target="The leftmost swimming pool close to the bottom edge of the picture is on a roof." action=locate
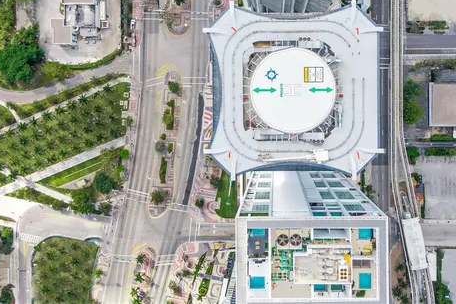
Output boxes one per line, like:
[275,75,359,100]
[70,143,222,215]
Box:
[249,275,266,290]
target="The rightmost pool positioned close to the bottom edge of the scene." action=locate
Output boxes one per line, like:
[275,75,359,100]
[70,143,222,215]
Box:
[358,272,372,290]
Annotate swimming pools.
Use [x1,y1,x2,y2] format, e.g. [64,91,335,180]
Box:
[331,283,343,292]
[313,283,326,292]
[358,272,372,290]
[249,275,266,290]
[358,229,373,240]
[250,229,267,237]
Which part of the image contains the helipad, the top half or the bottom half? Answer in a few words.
top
